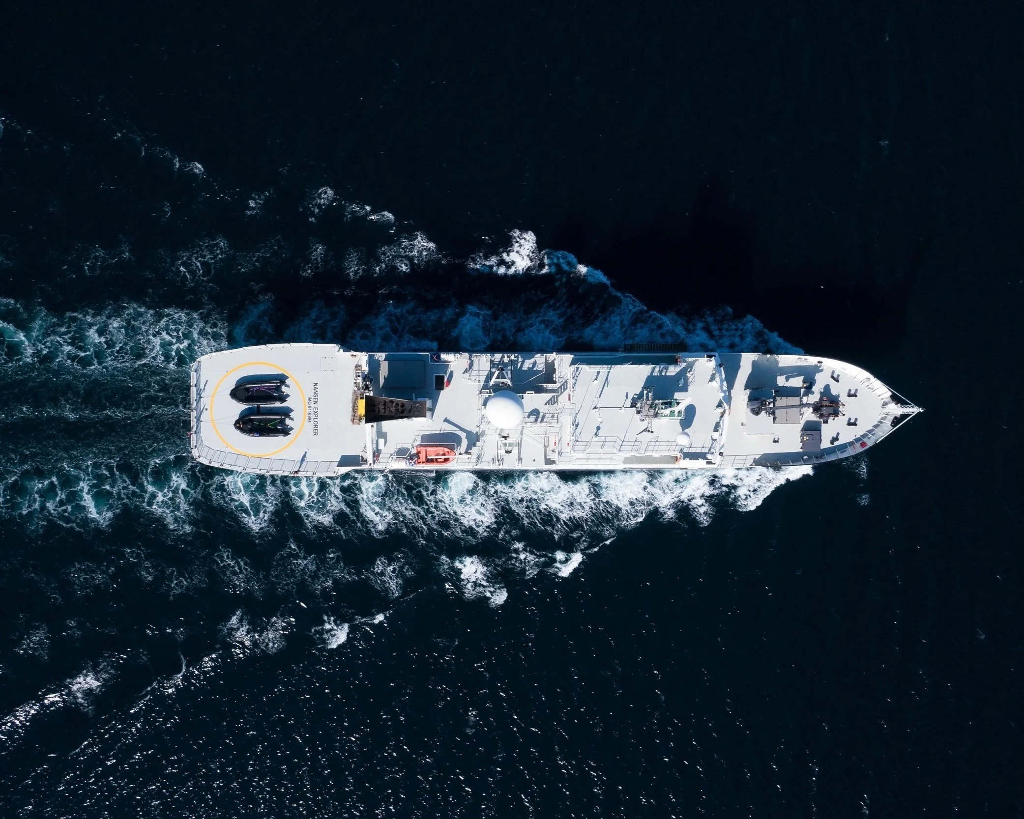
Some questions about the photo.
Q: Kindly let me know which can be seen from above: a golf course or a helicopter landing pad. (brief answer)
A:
helicopter landing pad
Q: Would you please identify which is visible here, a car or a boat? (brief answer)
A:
boat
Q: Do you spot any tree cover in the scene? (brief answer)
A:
No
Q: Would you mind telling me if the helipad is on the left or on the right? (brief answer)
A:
left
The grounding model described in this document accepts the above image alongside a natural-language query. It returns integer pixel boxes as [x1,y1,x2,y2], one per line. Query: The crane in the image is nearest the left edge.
[366,423,379,472]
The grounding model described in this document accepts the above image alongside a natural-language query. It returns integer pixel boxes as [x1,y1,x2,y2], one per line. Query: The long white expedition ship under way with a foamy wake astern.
[337,343,925,475]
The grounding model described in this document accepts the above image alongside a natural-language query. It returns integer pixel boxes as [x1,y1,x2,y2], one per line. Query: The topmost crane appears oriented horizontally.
[740,401,818,418]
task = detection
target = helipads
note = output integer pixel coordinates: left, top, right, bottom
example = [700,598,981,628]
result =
[186,343,366,476]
